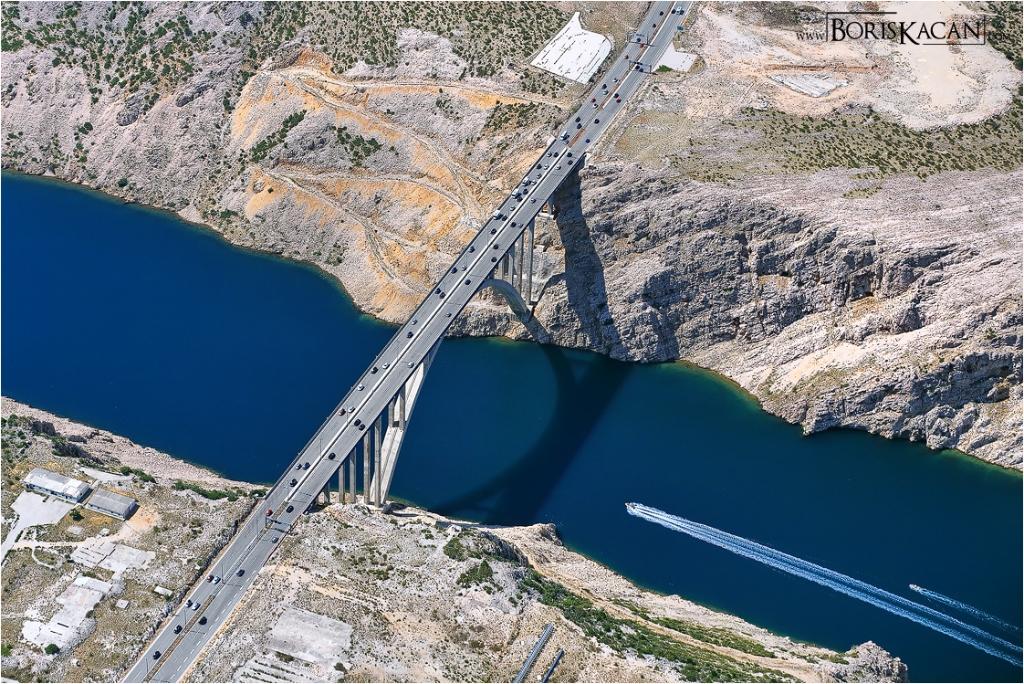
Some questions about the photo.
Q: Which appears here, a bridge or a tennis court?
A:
bridge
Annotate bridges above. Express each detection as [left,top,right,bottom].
[262,132,599,513]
